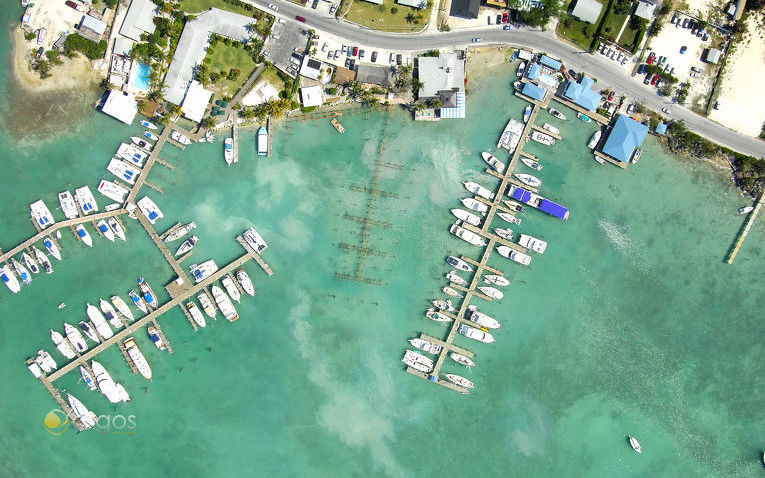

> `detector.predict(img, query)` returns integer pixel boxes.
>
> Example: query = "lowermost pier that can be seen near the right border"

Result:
[725,188,765,263]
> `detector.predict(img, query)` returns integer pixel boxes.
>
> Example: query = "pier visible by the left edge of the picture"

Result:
[0,120,273,431]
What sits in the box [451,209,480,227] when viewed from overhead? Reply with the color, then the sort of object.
white boat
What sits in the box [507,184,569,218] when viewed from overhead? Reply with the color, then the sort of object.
blue boat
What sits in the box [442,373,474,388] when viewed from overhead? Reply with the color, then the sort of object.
white boat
